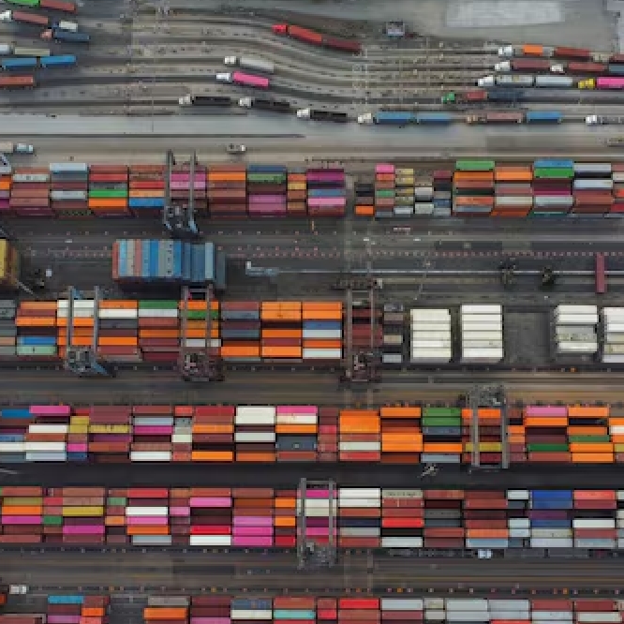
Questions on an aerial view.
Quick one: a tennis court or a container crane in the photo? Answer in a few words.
container crane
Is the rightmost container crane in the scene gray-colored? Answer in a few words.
Yes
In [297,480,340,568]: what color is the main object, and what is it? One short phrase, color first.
gray container crane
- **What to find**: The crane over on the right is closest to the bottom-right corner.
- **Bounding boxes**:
[458,386,509,471]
